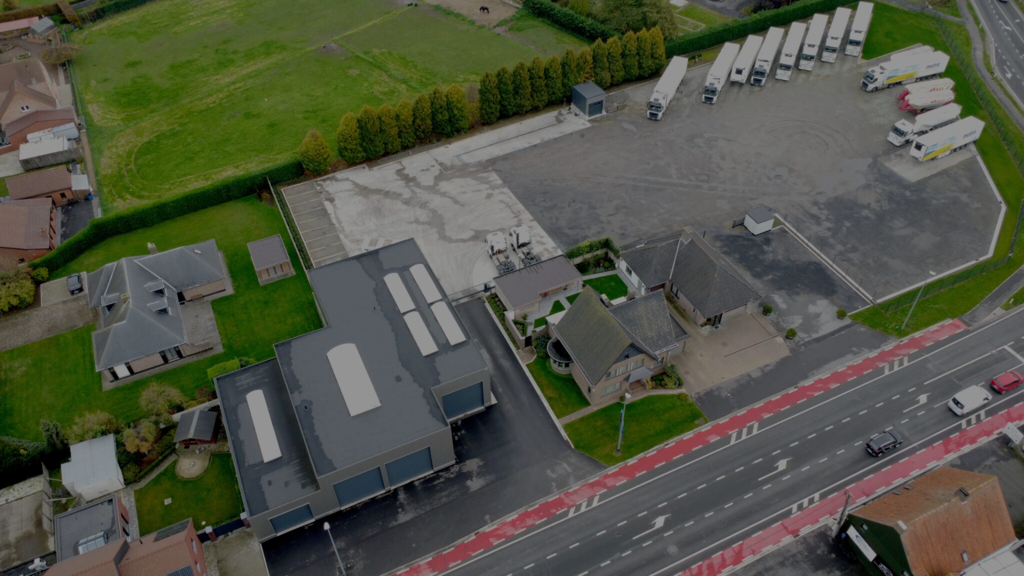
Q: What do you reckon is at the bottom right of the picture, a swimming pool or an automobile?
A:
automobile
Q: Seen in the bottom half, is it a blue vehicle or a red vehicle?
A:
red vehicle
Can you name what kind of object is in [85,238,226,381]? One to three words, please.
house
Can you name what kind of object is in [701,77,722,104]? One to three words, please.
truck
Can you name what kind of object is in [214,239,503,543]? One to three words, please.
building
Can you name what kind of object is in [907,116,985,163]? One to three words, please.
trailer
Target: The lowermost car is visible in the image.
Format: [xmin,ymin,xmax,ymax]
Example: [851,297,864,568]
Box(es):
[866,428,907,456]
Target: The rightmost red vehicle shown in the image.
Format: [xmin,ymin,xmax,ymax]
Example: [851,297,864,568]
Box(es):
[991,368,1024,393]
